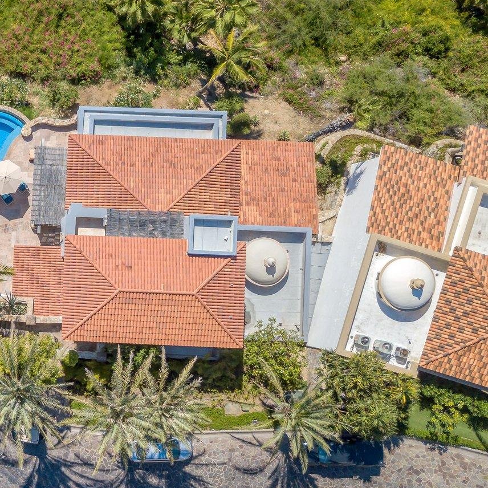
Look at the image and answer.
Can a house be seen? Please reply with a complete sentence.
Yes, a house can be made out from above.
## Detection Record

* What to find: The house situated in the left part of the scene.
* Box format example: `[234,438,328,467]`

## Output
[11,107,319,361]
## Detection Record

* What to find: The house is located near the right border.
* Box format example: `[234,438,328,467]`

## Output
[305,125,488,393]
